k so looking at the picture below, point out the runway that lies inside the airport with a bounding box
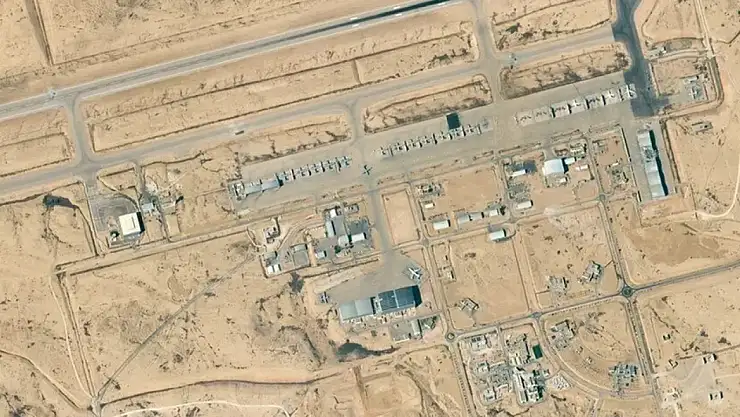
[0,0,472,119]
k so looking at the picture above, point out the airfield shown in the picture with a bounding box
[0,0,708,309]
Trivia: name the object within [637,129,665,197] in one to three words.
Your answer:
hangar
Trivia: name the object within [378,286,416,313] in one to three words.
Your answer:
hangar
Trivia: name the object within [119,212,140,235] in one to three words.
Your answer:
building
